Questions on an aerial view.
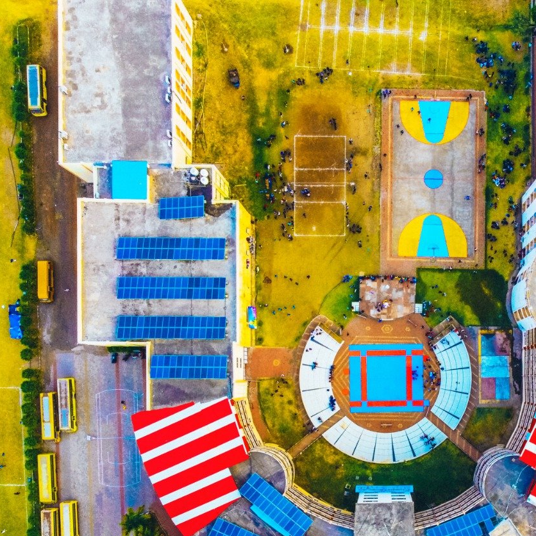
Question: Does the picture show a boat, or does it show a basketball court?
basketball court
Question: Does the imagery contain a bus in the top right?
No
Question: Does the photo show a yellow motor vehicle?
Yes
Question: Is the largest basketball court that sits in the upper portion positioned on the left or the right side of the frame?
right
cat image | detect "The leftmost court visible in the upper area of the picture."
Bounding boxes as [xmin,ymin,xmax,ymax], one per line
[294,135,347,237]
